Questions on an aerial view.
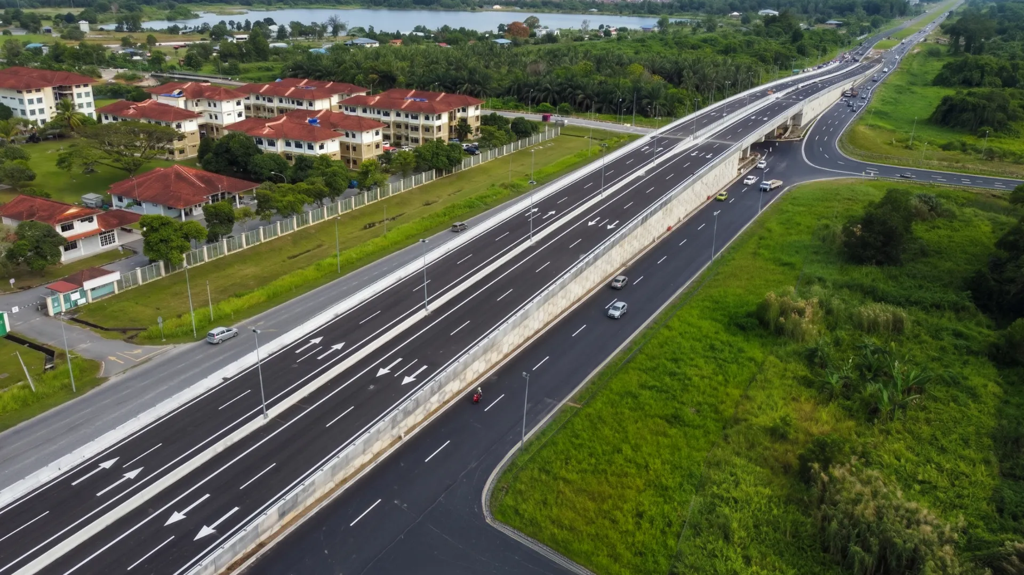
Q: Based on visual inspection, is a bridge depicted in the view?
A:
Yes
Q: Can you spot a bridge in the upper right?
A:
Yes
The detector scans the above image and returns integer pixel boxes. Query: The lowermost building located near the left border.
[38,266,122,316]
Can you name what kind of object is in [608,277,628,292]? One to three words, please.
car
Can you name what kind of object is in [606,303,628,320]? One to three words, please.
car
